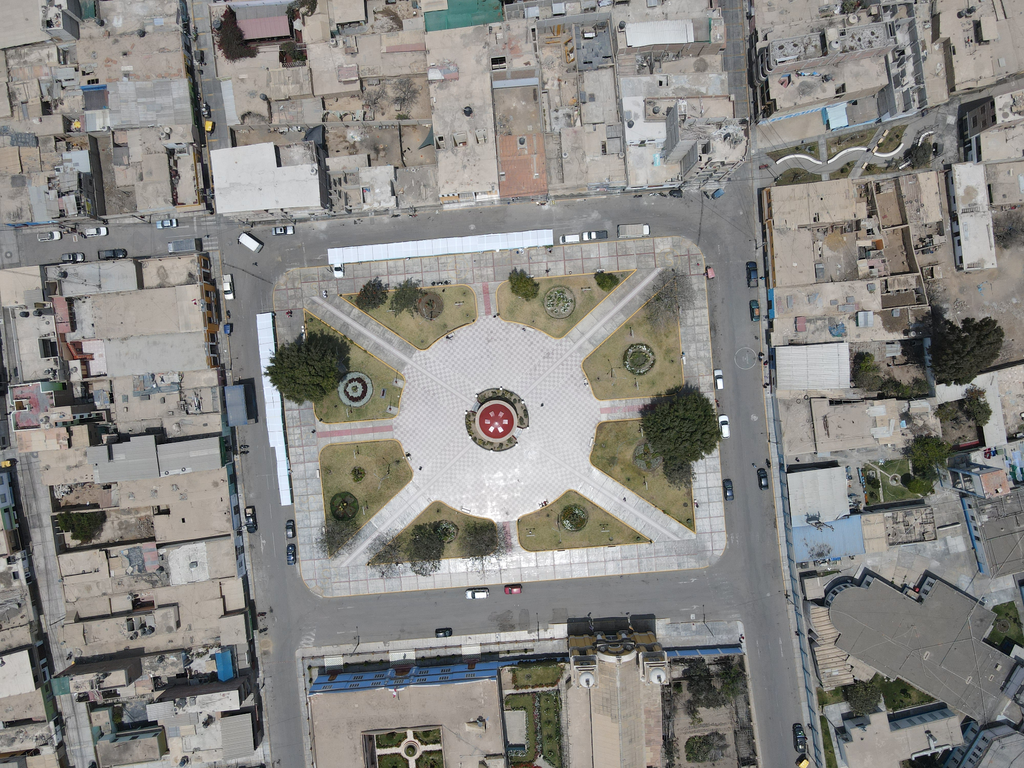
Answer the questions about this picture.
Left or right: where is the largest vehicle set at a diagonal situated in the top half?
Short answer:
left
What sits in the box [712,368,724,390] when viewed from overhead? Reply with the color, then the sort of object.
white vehicle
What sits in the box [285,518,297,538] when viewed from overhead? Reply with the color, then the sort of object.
gray vehicle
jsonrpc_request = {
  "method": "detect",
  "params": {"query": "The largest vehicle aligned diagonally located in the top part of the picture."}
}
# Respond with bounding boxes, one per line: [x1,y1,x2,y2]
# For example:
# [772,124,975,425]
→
[236,230,265,253]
